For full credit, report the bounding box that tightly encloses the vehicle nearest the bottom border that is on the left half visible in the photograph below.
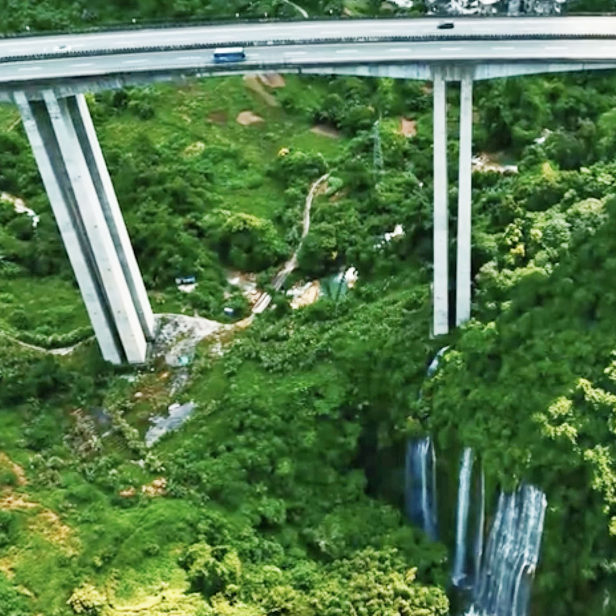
[219,304,238,316]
